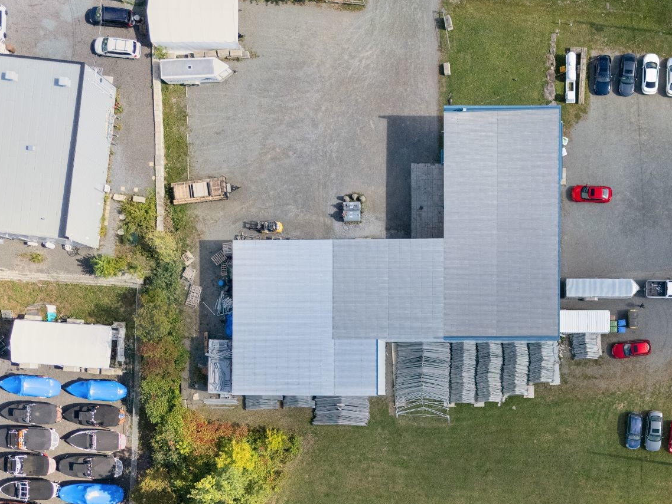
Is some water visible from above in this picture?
No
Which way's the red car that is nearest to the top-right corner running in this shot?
from side to side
